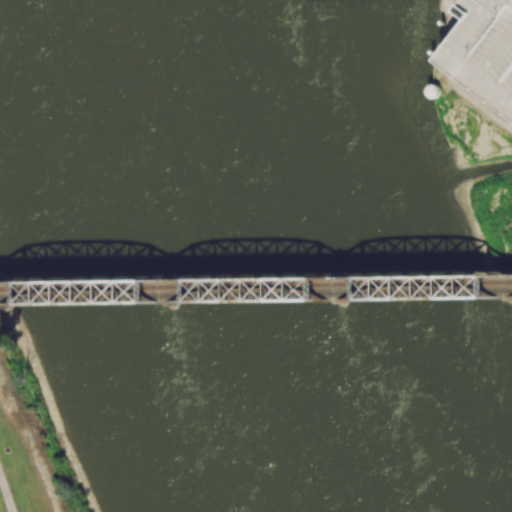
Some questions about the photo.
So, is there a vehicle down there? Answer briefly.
No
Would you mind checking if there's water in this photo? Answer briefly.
Yes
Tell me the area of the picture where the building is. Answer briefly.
top right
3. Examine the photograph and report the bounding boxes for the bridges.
[0,273,512,310]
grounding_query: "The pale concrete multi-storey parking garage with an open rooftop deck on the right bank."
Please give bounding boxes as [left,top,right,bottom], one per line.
[429,0,512,124]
